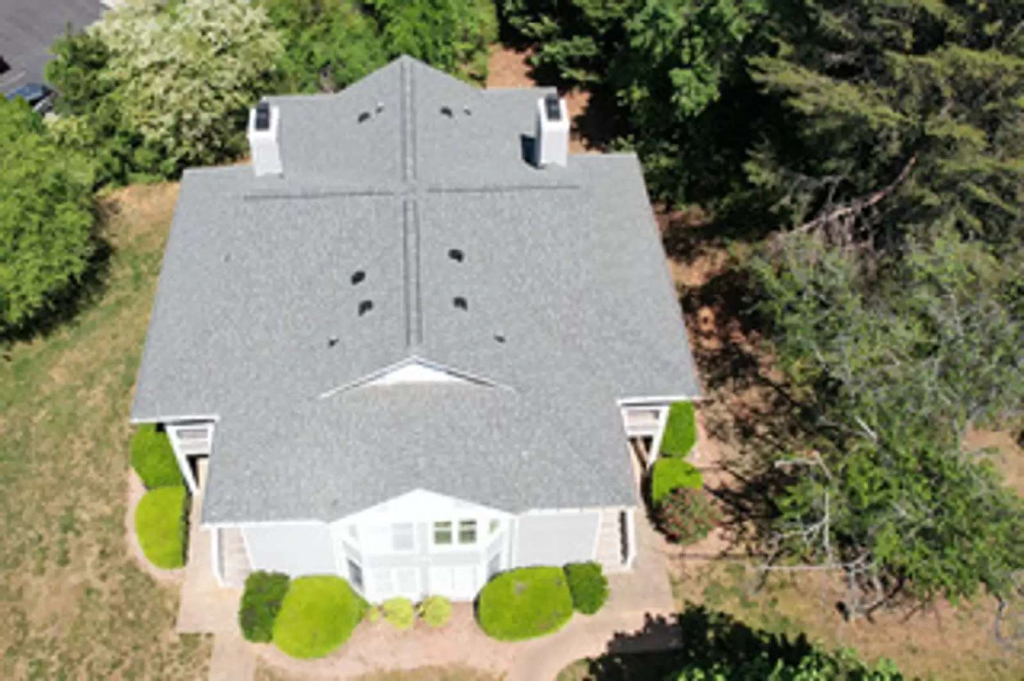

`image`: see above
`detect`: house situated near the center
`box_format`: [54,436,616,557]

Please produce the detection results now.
[131,56,701,603]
